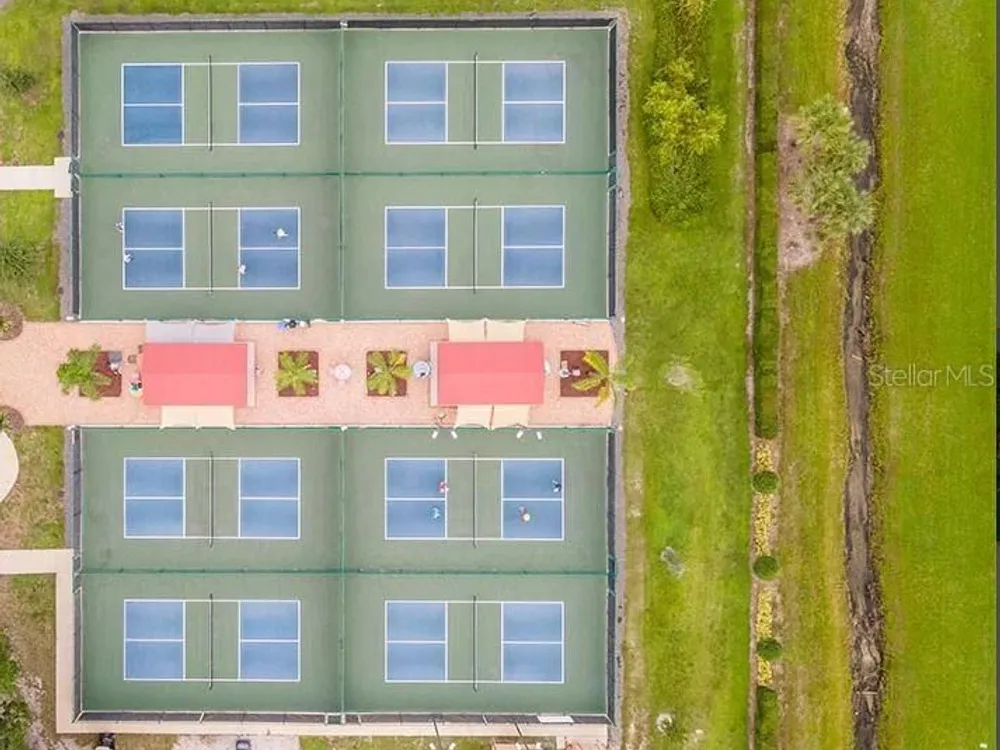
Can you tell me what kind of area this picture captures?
sports ground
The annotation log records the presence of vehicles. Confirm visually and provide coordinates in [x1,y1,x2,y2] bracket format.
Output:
[233,740,252,750]
[94,734,116,750]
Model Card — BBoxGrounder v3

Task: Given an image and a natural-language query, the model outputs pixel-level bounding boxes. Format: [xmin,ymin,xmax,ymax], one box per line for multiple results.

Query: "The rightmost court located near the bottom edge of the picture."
[343,571,605,714]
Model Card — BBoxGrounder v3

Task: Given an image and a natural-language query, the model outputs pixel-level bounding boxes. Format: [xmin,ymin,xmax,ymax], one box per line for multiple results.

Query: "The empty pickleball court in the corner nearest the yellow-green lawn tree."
[343,29,607,175]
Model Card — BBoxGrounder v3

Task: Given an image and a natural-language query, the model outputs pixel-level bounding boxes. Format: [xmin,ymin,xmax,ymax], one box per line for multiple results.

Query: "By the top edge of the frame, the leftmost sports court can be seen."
[80,31,342,176]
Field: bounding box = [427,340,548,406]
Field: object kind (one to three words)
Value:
building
